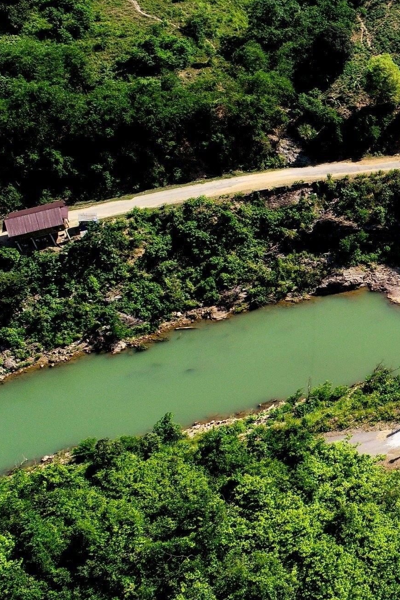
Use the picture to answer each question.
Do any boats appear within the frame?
No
